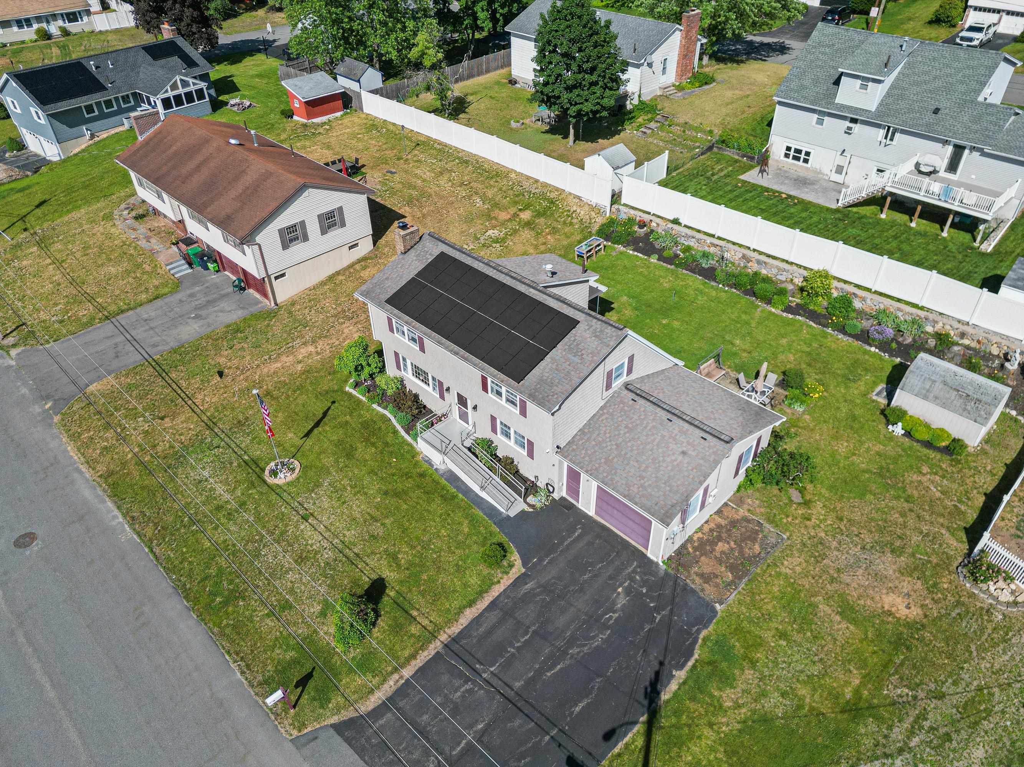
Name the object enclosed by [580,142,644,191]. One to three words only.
shed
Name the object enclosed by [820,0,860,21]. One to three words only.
car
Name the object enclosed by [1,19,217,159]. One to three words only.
house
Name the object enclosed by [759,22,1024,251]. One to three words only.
house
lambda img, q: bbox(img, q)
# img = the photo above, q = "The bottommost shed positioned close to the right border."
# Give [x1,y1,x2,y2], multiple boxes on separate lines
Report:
[890,351,1014,448]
